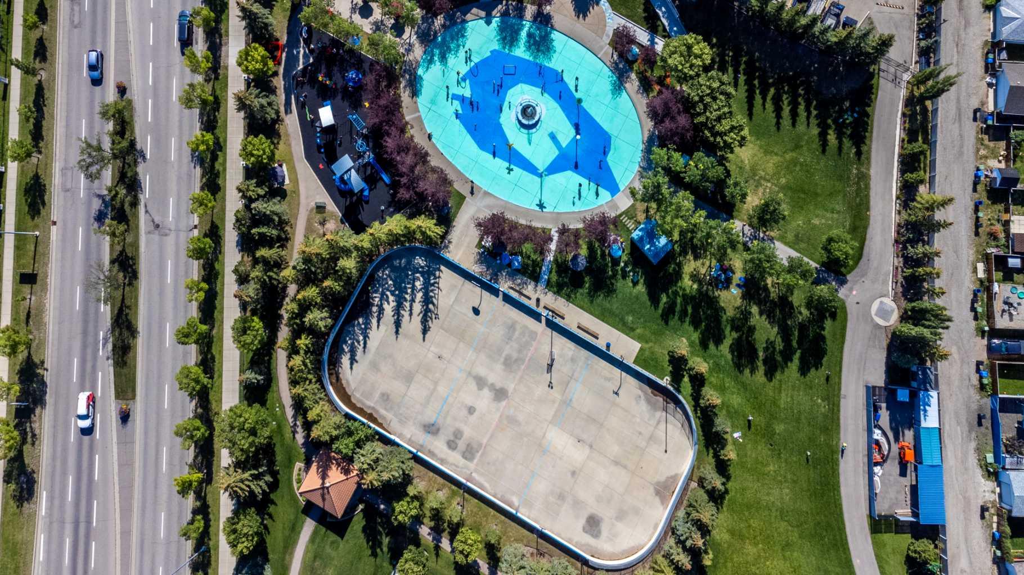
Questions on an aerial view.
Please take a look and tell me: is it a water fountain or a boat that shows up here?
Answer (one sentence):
Visible in the photo is a water fountain.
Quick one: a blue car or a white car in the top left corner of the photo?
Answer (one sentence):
Visible in the top left corner of the photo is a blue car.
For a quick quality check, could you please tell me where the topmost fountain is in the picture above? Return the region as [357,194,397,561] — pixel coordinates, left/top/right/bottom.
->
[512,97,547,130]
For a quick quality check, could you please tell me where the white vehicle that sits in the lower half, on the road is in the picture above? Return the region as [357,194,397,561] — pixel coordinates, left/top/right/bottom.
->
[75,392,95,426]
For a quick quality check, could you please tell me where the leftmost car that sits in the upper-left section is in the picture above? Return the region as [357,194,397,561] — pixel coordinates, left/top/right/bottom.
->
[83,50,102,80]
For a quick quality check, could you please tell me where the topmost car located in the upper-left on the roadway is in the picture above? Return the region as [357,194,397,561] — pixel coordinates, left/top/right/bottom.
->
[174,8,193,43]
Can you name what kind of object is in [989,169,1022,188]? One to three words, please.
shed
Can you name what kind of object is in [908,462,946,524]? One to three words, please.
shed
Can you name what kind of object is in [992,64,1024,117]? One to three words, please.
building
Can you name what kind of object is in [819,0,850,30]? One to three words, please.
truck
